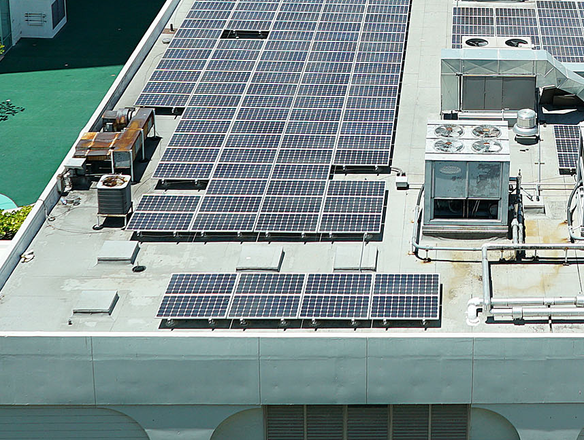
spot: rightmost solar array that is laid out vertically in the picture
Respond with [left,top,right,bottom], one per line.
[554,126,582,181]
